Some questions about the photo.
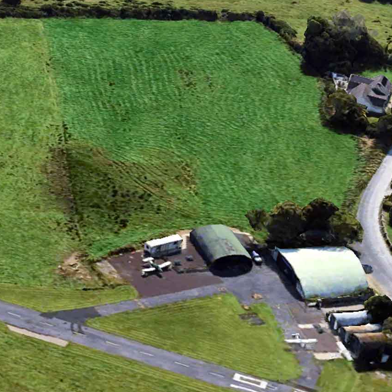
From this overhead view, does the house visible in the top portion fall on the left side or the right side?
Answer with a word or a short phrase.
right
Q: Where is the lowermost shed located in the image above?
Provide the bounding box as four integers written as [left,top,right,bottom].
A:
[346,332,392,359]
